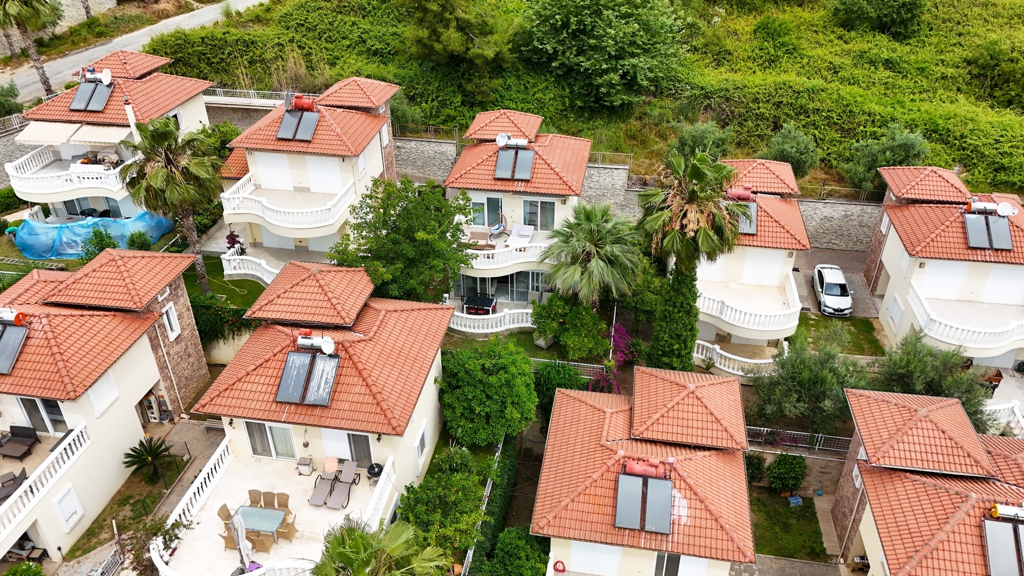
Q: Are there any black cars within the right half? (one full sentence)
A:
No, no black car appears within the right half.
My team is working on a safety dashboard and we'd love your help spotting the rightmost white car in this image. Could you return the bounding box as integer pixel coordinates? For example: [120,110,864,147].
[812,270,856,315]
